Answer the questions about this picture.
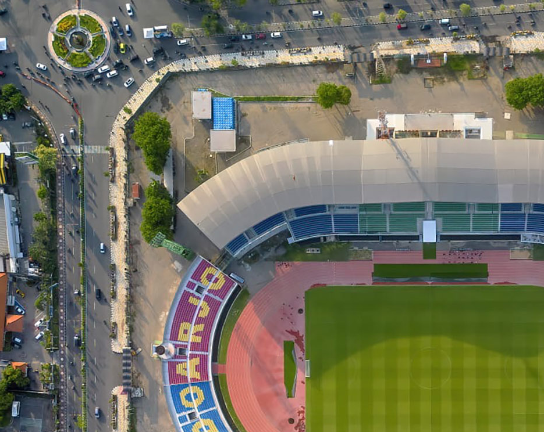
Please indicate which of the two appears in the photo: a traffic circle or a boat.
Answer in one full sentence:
The image shows a traffic circle.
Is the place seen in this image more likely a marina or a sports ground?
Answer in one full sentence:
What you see here is a sports ground.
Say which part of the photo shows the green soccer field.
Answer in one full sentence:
You can find the green soccer field in the bottom right area of the picture.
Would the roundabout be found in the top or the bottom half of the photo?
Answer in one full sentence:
You can find the roundabout in the top half.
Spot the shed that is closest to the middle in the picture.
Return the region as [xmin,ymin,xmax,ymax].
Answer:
[211,130,237,153]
